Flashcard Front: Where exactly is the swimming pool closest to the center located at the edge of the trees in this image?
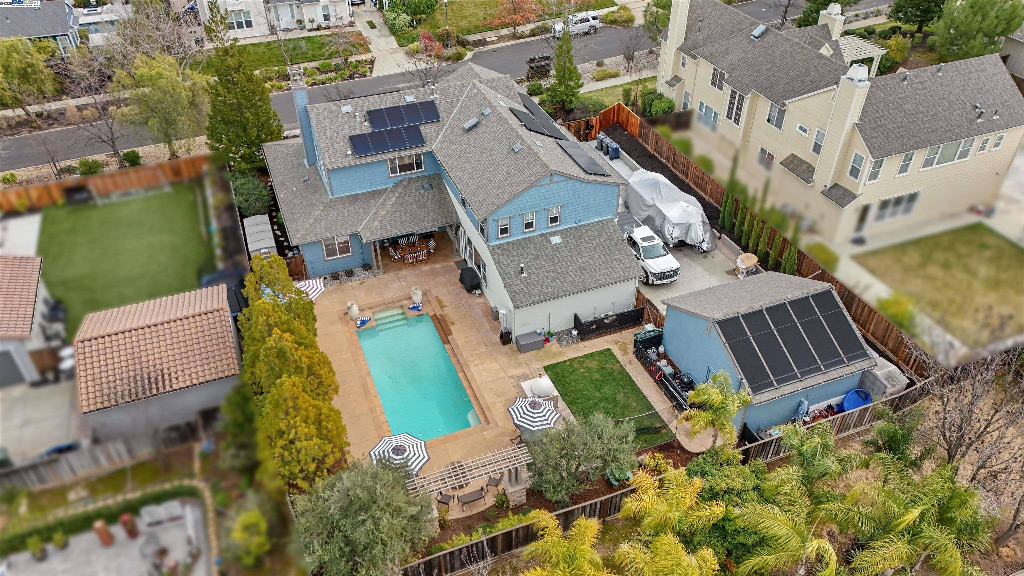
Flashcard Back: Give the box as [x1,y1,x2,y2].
[358,306,480,442]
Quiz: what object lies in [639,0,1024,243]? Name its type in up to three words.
house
